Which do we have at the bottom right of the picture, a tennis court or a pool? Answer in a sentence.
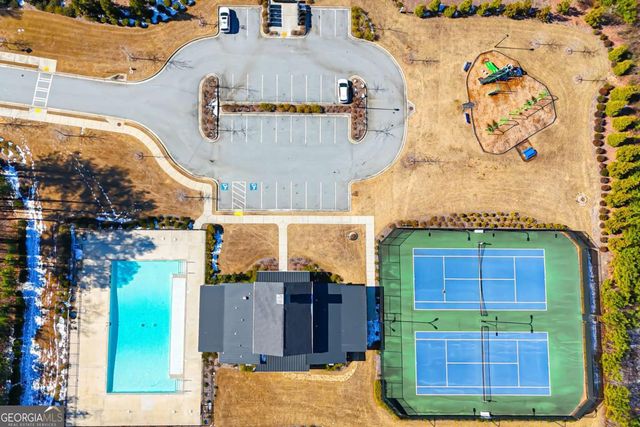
You can see a tennis court at the bottom right of the picture.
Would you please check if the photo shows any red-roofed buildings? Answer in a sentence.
No, I find no red-roofed building anywhere in the image.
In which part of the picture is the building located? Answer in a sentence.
The building appears toward the bottom of the photo.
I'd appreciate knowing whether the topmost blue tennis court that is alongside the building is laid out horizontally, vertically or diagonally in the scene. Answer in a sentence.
In this picture, the topmost blue tennis court that is alongside the building is oriented horizontally.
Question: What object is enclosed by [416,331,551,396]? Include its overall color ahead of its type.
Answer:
blue tennis court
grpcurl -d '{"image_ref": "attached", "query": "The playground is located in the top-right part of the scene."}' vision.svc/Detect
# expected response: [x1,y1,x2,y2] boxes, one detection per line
[468,49,557,162]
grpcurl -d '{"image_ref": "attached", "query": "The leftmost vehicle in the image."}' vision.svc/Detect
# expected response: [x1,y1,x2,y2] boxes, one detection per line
[218,6,231,32]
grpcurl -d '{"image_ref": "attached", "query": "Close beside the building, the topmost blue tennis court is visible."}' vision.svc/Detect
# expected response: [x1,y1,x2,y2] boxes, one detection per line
[413,248,547,311]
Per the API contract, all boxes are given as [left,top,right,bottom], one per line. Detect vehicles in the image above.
[338,79,349,103]
[218,6,231,32]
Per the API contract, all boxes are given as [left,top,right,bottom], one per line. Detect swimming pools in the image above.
[69,230,208,424]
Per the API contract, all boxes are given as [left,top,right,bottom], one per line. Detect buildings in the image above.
[198,271,368,372]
